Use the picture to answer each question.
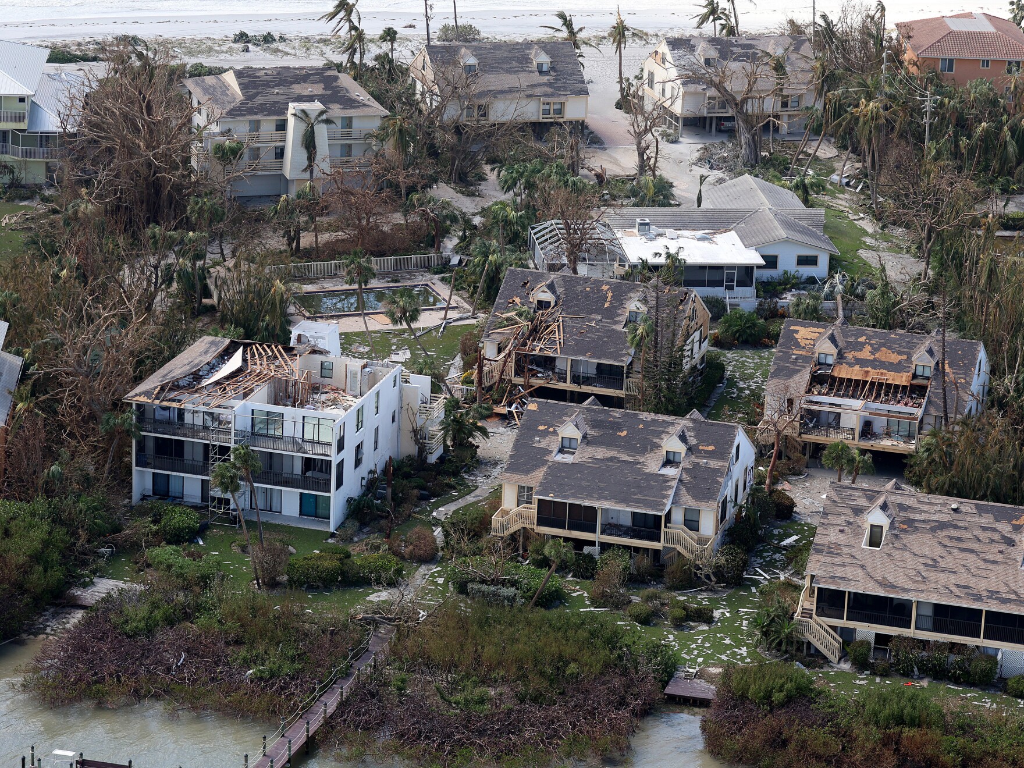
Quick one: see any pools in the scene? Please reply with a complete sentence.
Yes, a pool can be made out from above.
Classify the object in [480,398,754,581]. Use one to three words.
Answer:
house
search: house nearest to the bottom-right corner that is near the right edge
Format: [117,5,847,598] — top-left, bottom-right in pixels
[780,482,1024,678]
